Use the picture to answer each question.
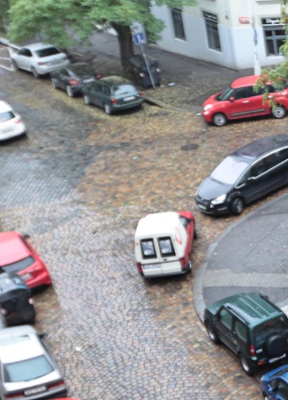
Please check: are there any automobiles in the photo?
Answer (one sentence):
Yes, there's an automobile here.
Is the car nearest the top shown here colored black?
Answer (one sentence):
No, the car nearest the top is white.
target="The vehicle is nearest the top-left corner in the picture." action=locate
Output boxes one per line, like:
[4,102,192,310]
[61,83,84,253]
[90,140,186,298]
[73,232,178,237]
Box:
[3,37,69,75]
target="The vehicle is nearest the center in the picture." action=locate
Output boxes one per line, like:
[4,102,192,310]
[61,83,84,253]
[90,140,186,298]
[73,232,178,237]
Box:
[130,199,199,277]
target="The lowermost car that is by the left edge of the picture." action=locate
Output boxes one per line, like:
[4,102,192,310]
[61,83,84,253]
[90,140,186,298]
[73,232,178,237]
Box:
[0,323,70,400]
